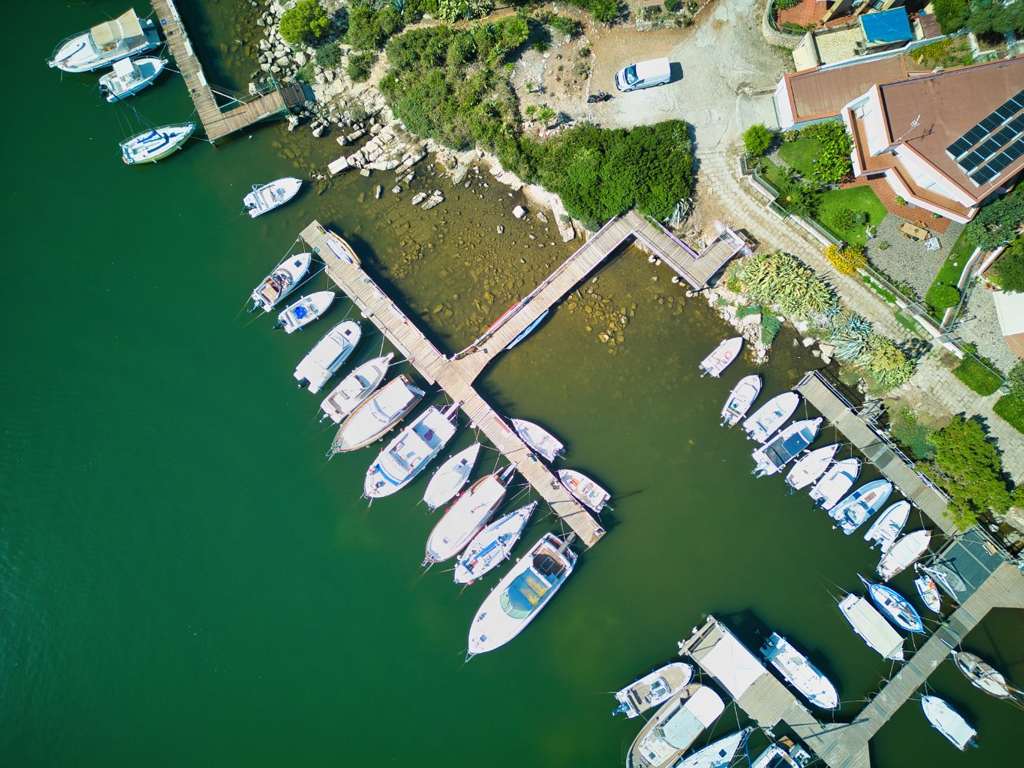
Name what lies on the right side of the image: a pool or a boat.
boat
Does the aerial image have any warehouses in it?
No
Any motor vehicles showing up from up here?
Yes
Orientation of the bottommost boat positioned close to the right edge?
at an angle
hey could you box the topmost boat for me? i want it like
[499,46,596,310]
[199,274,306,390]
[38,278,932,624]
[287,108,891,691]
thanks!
[43,10,170,73]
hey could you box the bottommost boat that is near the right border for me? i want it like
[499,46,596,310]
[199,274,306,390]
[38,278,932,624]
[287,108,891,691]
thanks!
[916,691,980,752]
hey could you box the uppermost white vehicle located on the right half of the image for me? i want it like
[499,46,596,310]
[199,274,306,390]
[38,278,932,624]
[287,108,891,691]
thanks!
[613,60,674,94]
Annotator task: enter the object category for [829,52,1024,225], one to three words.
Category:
house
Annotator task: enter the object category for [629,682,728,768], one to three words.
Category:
boat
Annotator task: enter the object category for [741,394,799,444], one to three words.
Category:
boat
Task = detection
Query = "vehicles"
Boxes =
[587,88,608,102]
[613,60,674,94]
